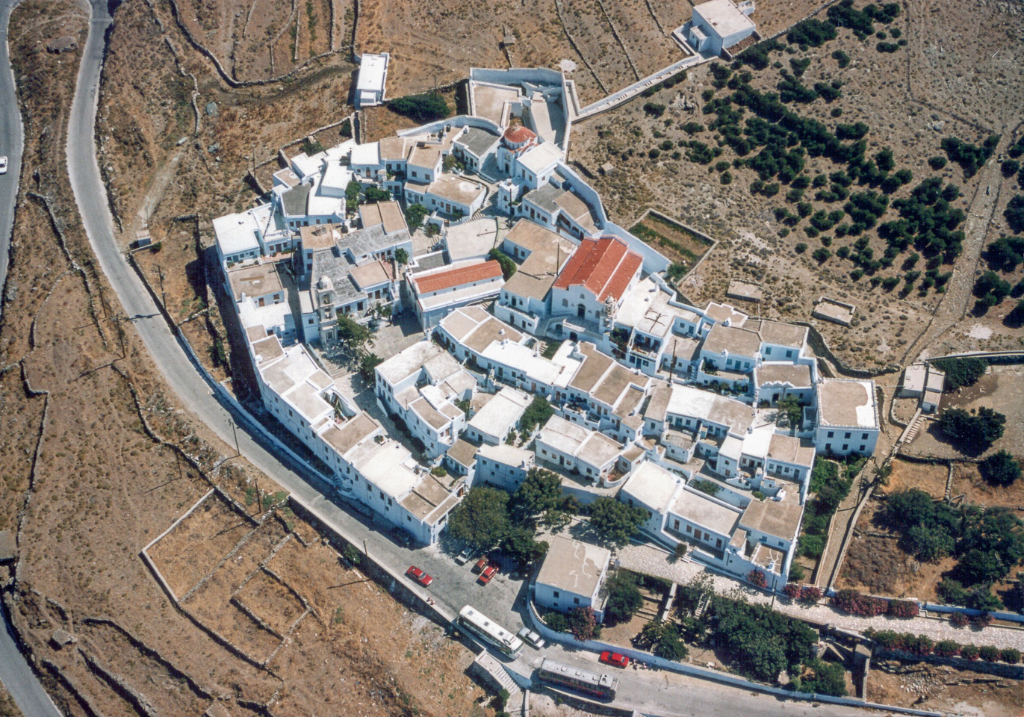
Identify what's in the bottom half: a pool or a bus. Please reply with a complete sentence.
Looking in the bottom half, you will find a bus.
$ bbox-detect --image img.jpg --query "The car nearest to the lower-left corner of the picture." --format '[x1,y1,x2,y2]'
[405,567,435,586]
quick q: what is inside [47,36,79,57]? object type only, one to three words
building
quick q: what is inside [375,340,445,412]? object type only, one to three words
house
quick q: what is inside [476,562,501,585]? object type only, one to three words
car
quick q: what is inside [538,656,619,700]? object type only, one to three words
bus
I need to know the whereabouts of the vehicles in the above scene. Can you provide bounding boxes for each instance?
[538,656,619,700]
[476,562,501,585]
[468,553,491,574]
[0,158,7,173]
[457,604,528,662]
[516,629,548,650]
[451,546,477,566]
[405,567,435,586]
[599,651,629,667]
